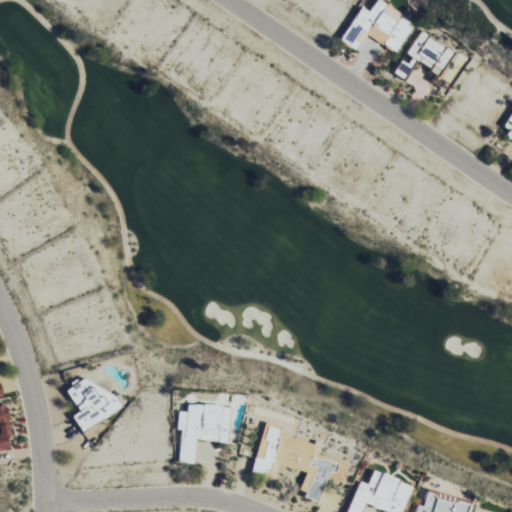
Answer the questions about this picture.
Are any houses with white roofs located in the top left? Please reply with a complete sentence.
No, I can find no house with a white roof in the top left.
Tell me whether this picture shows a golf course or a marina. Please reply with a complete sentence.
What you see here is a golf course.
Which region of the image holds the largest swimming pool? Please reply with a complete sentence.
You can find the largest swimming pool in the bottom left area of the picture.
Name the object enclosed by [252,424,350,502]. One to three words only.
house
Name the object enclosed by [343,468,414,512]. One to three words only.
house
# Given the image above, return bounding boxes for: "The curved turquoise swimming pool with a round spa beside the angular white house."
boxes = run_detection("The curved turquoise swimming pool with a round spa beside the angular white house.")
[106,364,130,390]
